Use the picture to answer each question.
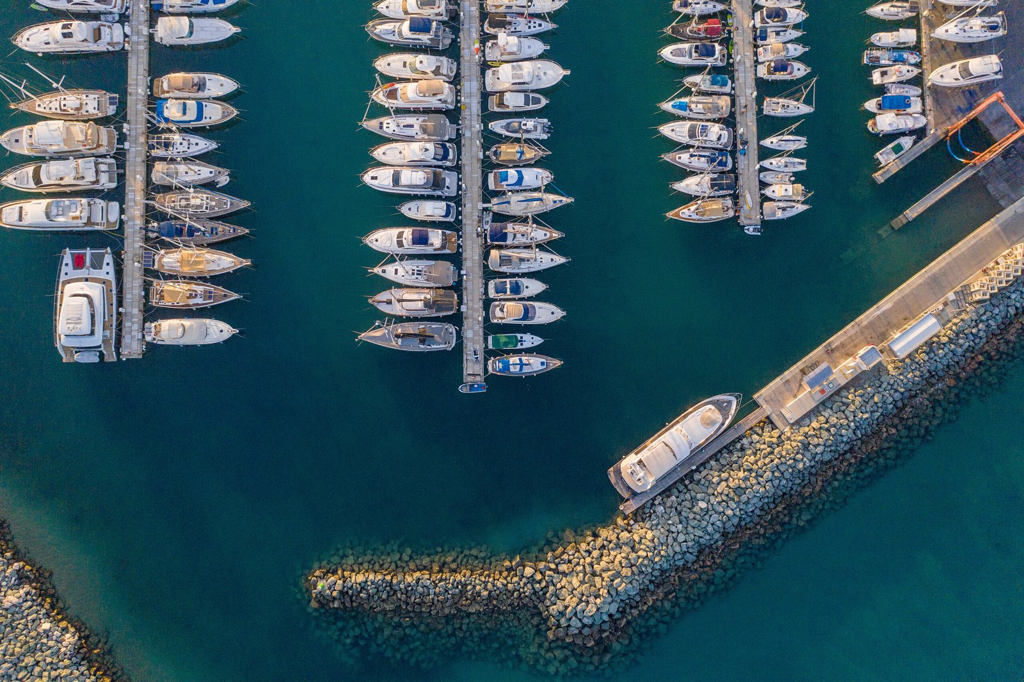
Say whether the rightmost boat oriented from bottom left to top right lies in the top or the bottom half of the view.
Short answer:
top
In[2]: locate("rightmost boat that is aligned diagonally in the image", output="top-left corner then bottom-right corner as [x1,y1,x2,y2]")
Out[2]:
[869,131,919,167]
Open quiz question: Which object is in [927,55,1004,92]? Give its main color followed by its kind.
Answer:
white boat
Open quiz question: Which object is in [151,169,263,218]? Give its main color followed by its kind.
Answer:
gray boat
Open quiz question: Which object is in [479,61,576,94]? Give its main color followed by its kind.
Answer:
white boat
